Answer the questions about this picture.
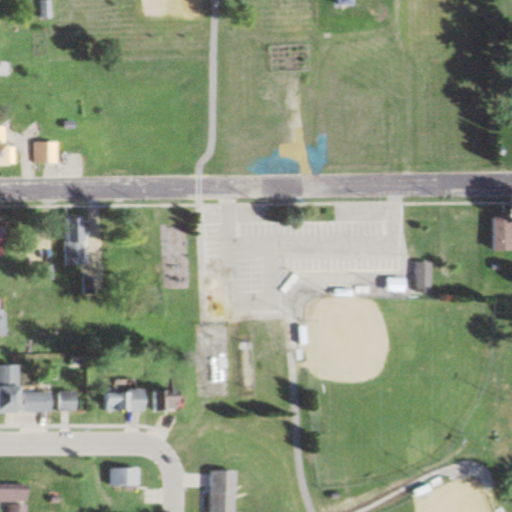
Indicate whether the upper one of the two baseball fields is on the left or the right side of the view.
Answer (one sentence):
You can find the upper one of the two baseball fields on the right side of the picture.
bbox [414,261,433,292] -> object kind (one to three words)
building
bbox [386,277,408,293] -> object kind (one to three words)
building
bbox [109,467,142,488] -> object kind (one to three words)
house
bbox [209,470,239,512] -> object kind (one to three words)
house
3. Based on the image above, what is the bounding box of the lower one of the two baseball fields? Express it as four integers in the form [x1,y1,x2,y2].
[412,479,494,512]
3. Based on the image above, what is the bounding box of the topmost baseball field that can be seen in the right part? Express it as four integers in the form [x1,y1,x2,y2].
[302,296,496,486]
